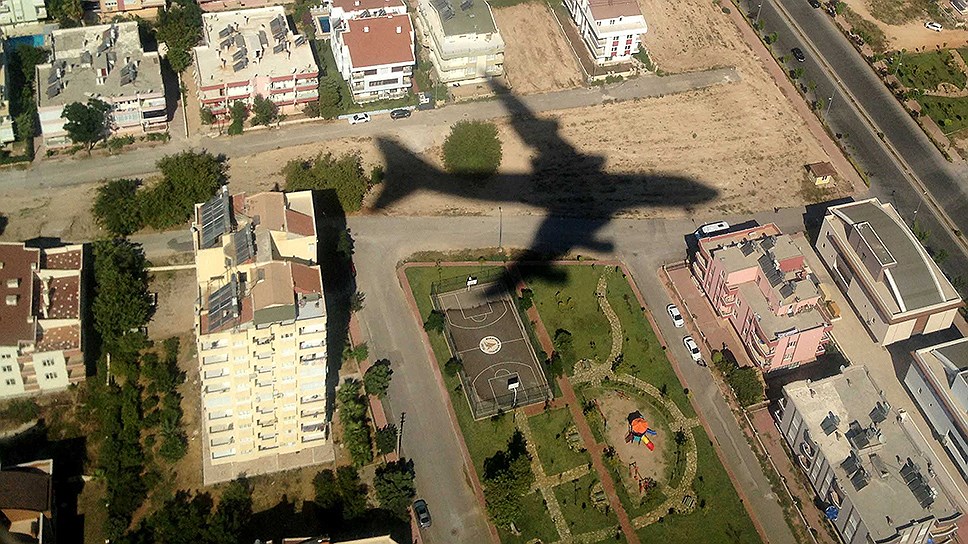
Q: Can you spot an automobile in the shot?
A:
Yes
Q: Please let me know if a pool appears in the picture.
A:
Yes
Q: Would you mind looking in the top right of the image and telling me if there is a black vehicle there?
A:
Yes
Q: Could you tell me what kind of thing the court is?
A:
basketball court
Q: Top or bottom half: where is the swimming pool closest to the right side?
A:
top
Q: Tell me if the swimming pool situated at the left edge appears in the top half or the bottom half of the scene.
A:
top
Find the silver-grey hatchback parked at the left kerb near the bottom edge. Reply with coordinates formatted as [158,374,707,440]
[415,500,432,526]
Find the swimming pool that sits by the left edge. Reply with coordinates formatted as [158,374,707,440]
[4,25,61,57]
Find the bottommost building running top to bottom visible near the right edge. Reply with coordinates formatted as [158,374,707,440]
[899,336,968,506]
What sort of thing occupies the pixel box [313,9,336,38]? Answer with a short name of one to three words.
swimming pool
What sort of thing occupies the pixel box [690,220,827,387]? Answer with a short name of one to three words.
building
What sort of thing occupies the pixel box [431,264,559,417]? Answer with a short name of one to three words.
basketball court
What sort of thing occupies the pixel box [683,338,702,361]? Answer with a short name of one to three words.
car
